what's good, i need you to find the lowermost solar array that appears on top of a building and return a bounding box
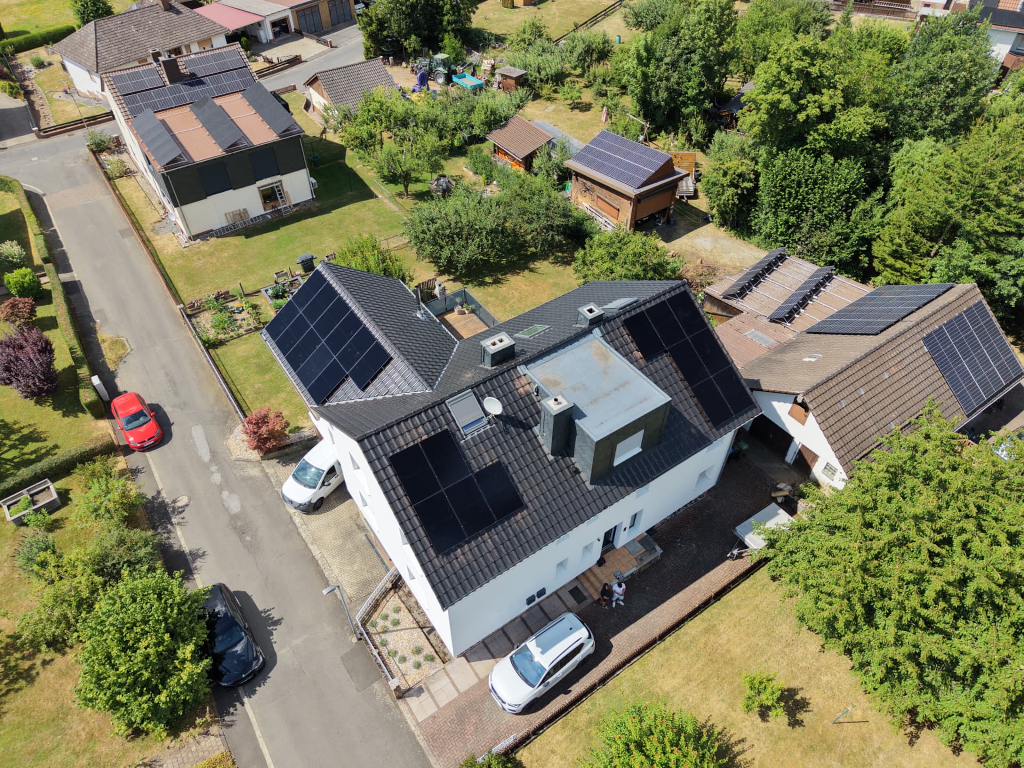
[389,430,525,555]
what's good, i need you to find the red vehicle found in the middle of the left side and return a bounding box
[110,389,165,456]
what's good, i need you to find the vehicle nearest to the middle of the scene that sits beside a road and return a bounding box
[275,417,341,510]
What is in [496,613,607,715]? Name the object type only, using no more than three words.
car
